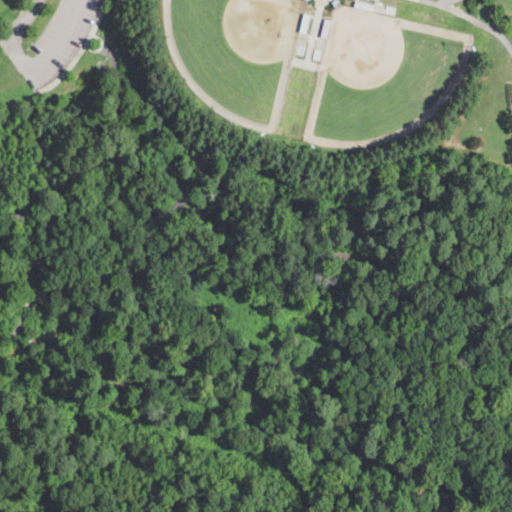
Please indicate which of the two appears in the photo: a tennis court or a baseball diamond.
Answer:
baseball diamond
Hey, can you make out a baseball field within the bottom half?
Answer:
No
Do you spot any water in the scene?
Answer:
No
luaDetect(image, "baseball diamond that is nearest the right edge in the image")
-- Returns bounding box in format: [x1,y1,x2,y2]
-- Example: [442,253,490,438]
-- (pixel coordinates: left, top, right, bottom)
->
[305,8,474,150]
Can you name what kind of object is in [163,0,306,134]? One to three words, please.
baseball field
